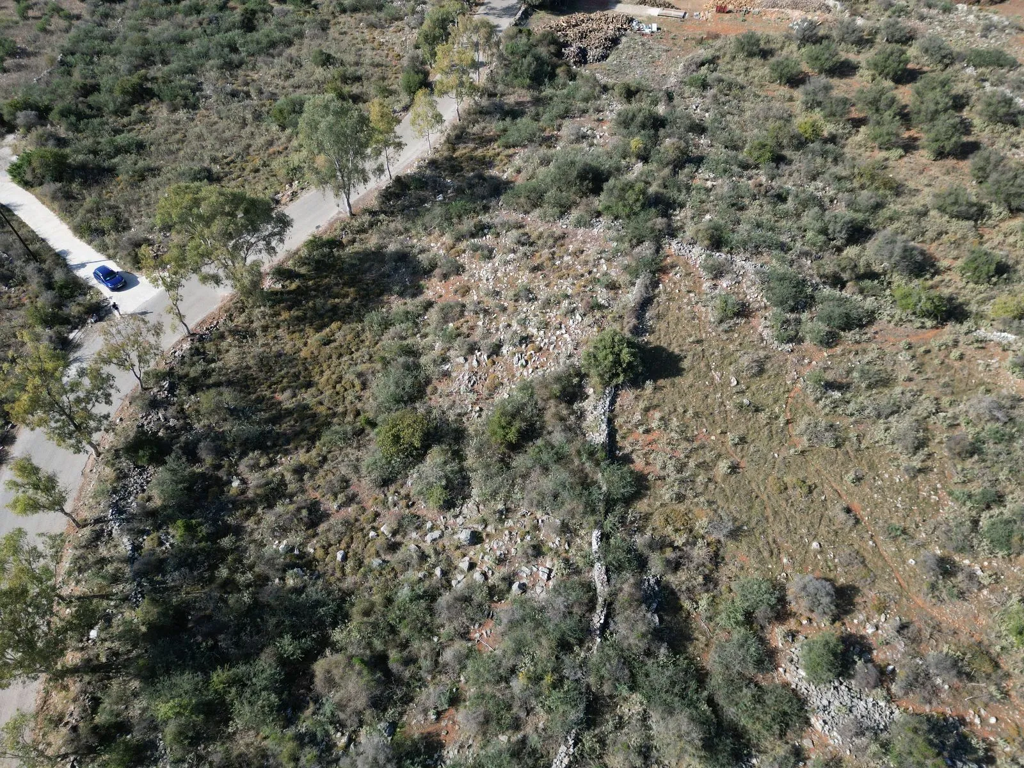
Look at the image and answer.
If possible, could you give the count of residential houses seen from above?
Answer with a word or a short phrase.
zero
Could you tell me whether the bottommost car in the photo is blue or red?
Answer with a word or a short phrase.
blue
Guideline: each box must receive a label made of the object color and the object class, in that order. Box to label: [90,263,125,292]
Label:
blue car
